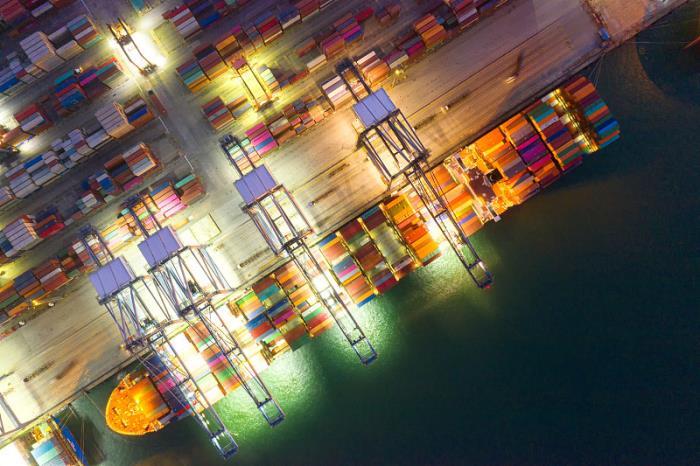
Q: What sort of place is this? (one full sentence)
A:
What you see here is a port.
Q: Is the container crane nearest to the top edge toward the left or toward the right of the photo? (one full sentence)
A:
It is on the left.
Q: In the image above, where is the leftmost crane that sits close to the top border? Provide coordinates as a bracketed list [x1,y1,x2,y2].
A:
[105,15,157,73]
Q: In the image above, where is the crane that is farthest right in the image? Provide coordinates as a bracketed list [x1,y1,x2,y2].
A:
[336,61,492,290]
